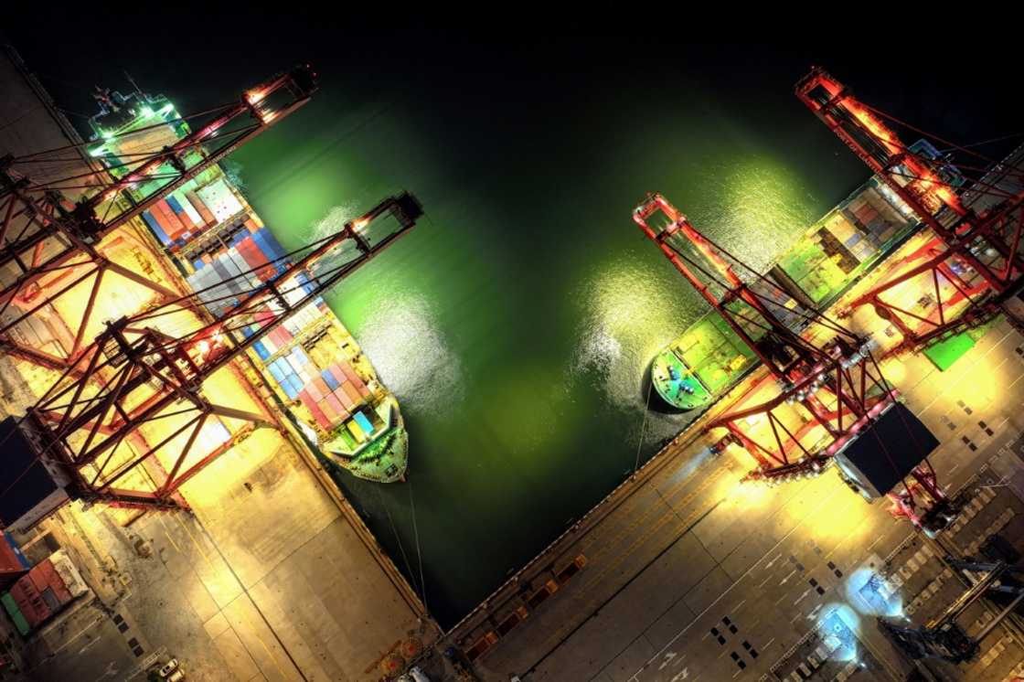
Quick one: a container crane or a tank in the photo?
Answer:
container crane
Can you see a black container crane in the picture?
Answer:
Yes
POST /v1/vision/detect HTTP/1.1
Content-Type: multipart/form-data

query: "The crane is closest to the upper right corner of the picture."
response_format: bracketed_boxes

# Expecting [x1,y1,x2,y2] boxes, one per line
[785,64,1024,368]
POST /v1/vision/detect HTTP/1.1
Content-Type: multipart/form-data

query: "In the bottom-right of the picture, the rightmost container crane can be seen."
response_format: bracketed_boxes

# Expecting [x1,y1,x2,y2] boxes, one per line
[875,534,1024,676]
